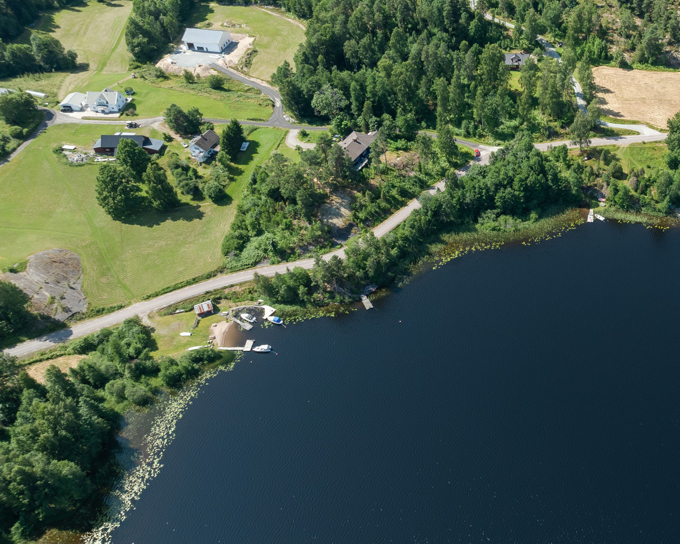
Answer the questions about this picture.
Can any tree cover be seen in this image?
Yes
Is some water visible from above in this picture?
Yes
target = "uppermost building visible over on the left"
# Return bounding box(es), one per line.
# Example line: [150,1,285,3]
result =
[181,27,235,52]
